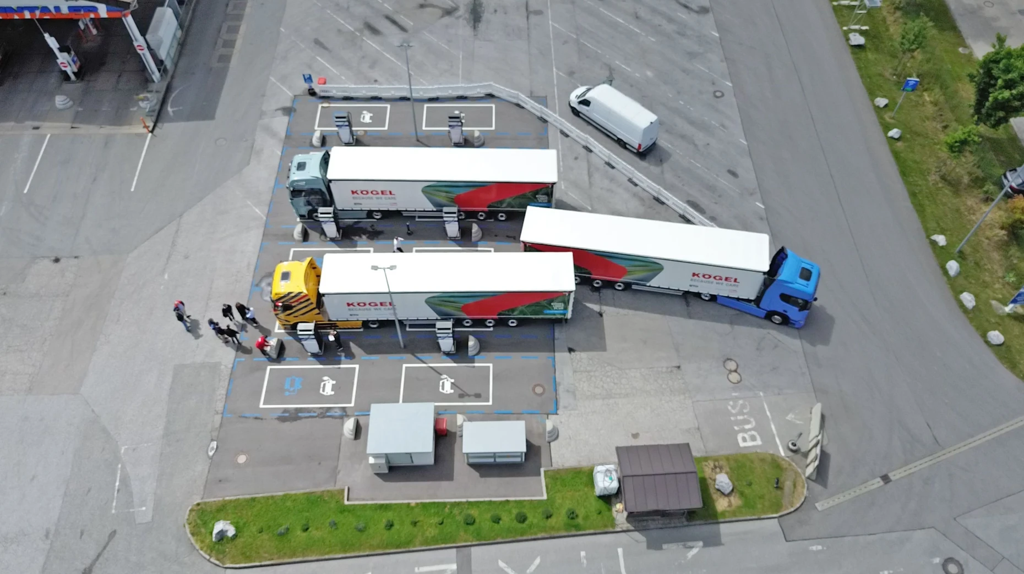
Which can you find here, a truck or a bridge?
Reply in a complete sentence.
It is a truck that can be seen here.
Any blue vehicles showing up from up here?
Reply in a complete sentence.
Yes, this view includes a blue vehicle.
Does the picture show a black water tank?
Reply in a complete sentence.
No, the photo shows no black water tank.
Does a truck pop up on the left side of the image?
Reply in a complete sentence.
Yes, there is a truck on the left side of the image.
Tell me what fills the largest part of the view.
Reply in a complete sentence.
The largest share of the image is taken up by paved ground.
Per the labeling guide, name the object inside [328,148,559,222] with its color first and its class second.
white trailer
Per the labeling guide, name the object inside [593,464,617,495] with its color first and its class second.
white water tank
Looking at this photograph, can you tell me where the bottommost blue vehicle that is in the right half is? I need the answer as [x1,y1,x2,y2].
[702,252,820,328]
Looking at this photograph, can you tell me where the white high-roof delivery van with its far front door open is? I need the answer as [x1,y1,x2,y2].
[567,76,663,155]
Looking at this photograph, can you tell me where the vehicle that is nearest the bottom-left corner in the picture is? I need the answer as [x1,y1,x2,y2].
[273,258,388,330]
